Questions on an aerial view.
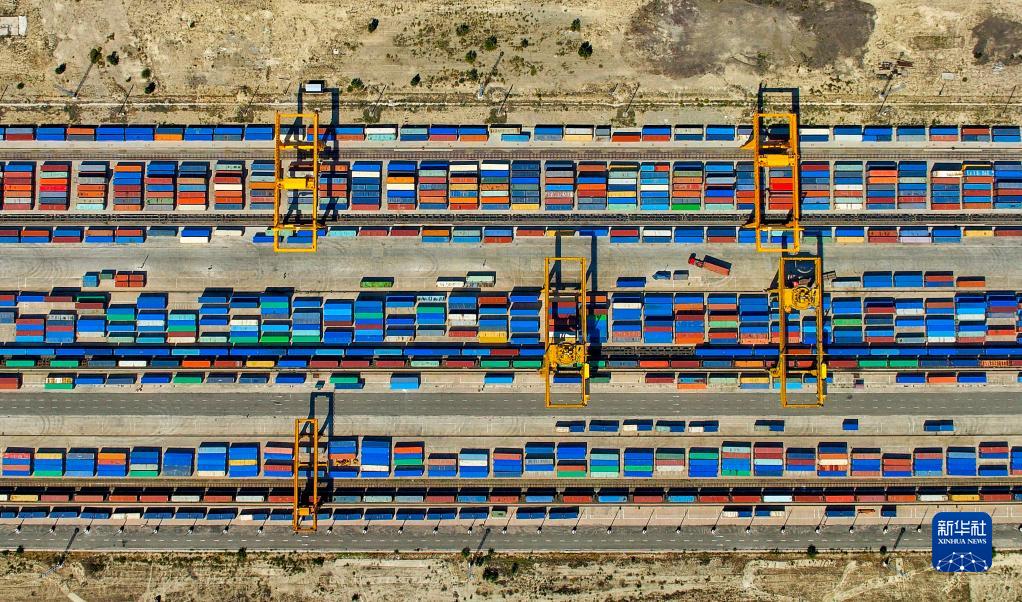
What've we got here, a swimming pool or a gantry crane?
gantry crane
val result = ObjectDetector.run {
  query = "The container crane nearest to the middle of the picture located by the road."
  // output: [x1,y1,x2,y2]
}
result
[537,259,592,405]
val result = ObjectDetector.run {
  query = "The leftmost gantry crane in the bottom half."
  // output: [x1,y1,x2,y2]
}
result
[292,419,326,532]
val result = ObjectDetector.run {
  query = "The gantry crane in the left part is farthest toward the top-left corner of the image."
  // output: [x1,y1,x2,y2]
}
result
[274,115,331,251]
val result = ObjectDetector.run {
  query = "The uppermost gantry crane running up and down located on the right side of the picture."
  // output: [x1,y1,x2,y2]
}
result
[739,115,798,251]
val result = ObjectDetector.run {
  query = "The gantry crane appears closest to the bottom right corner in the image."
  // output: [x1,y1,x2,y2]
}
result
[765,259,827,405]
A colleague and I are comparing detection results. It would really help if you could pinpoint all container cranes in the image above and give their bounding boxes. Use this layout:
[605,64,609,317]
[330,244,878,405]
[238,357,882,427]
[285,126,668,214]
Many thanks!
[274,115,331,251]
[765,259,827,405]
[537,259,592,405]
[739,115,798,251]
[292,419,326,532]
